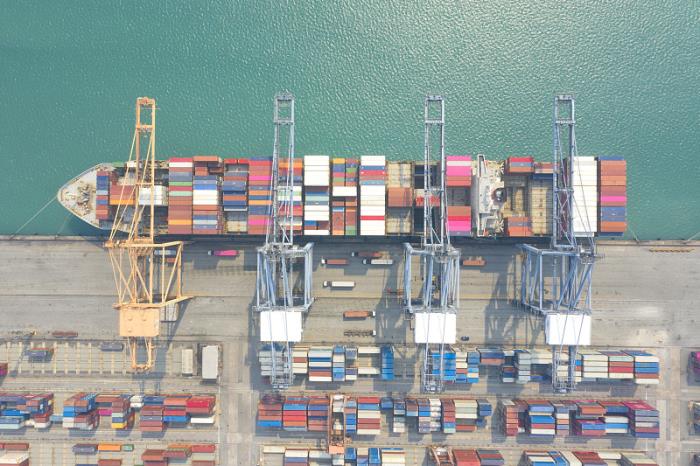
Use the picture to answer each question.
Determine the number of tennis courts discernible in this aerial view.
0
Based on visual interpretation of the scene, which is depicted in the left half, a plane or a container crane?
container crane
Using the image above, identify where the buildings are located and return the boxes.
[202,344,220,379]
[181,349,194,375]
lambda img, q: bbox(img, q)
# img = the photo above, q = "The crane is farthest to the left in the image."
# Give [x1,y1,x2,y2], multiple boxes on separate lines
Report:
[100,90,204,371]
